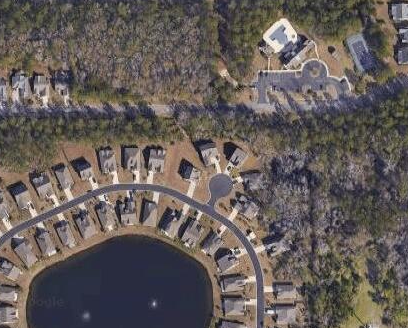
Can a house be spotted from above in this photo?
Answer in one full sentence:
Yes, there's a house here.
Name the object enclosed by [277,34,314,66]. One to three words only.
building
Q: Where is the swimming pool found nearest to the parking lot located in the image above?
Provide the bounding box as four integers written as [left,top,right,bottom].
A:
[265,20,298,53]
